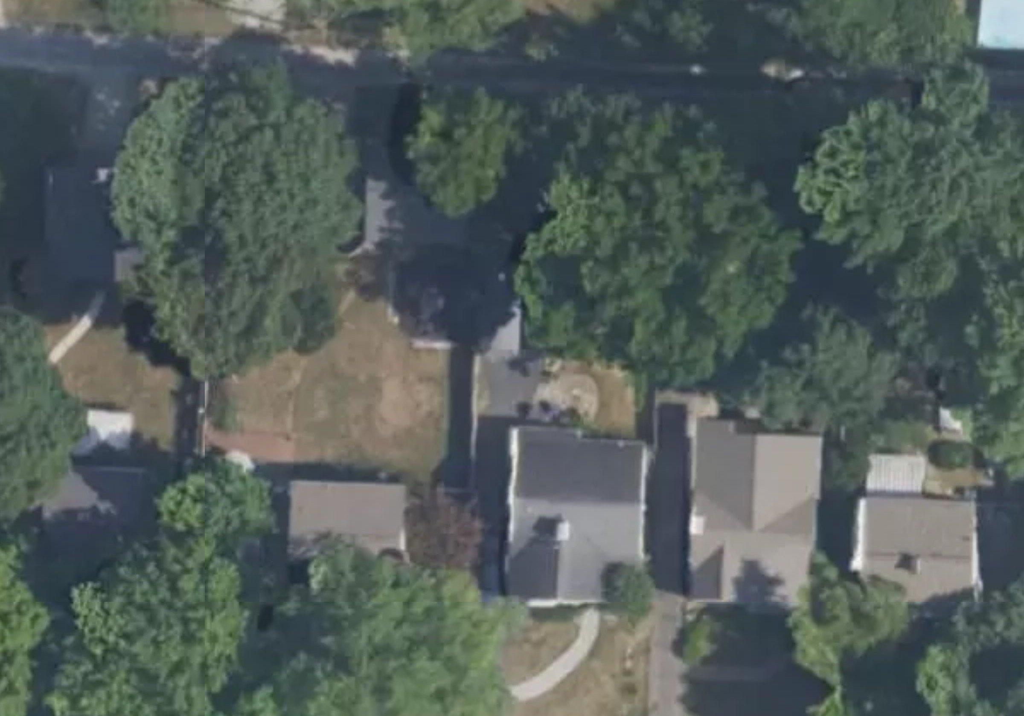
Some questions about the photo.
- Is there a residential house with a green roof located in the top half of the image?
No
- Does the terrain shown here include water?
No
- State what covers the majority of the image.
trees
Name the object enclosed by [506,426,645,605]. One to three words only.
house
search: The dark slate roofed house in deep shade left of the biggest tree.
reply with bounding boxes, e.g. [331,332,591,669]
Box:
[44,164,142,282]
